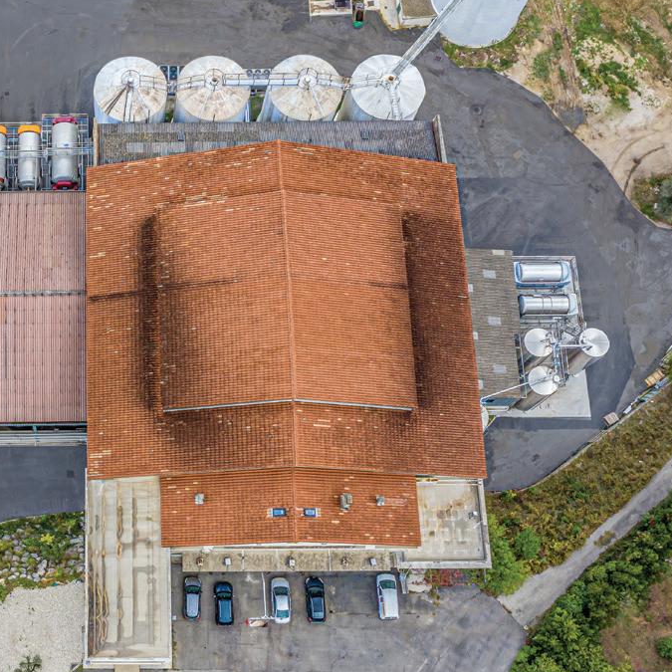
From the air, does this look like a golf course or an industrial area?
industrial area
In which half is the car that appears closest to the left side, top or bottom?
bottom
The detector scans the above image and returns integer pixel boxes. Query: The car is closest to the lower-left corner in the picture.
[181,577,202,621]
